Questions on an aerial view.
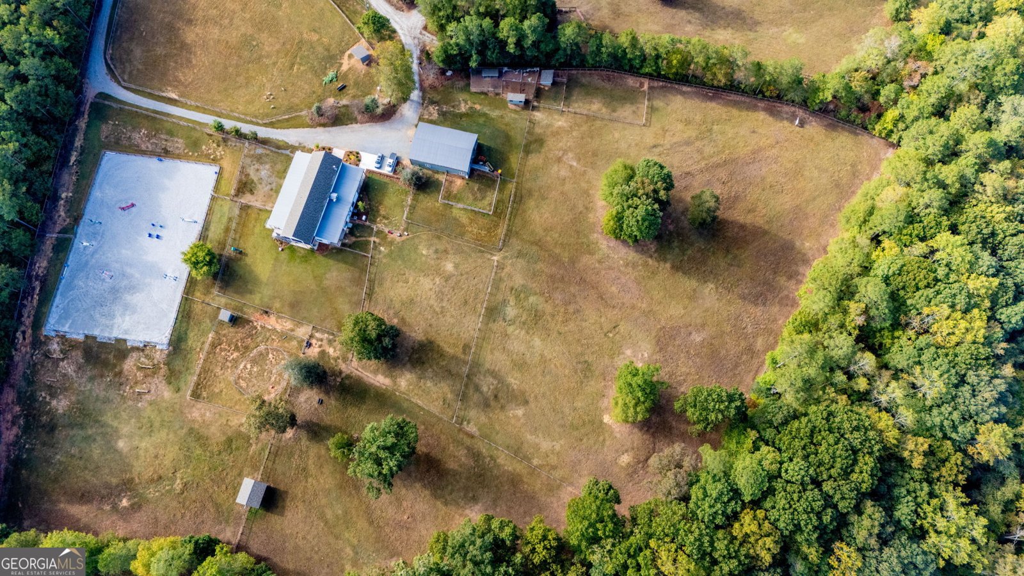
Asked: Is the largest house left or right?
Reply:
left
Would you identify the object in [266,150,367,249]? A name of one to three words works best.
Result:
house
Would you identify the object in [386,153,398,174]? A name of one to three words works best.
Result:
vehicle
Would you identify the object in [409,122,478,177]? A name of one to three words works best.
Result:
barn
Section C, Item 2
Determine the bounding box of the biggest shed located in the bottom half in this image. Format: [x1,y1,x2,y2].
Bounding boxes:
[236,477,269,508]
